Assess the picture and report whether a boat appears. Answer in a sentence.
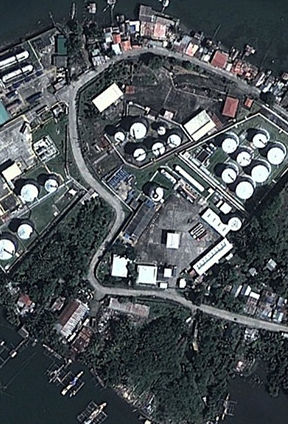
Yes, the image includes a boat.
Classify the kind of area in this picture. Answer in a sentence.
It's a residential area.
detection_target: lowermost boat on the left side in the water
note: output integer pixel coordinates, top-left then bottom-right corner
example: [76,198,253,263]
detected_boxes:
[76,402,108,424]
